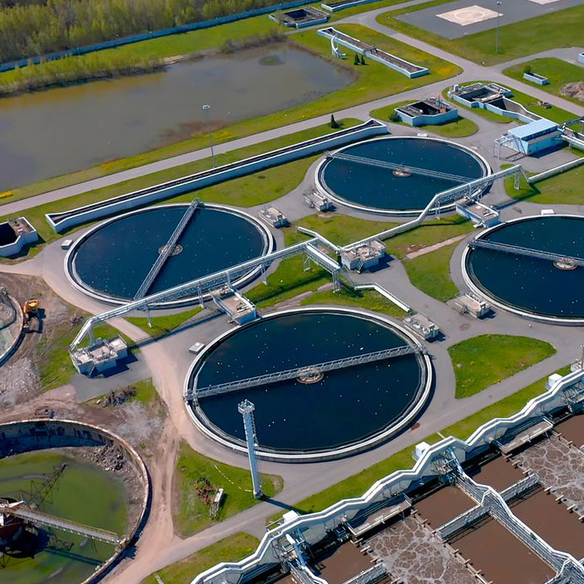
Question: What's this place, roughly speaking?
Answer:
industrial area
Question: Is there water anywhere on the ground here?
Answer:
Yes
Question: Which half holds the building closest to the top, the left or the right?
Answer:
right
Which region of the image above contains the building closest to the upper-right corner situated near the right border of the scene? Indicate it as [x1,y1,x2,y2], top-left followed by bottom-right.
[493,117,566,162]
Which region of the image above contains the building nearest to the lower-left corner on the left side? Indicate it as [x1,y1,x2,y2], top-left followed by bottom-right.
[63,327,123,378]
